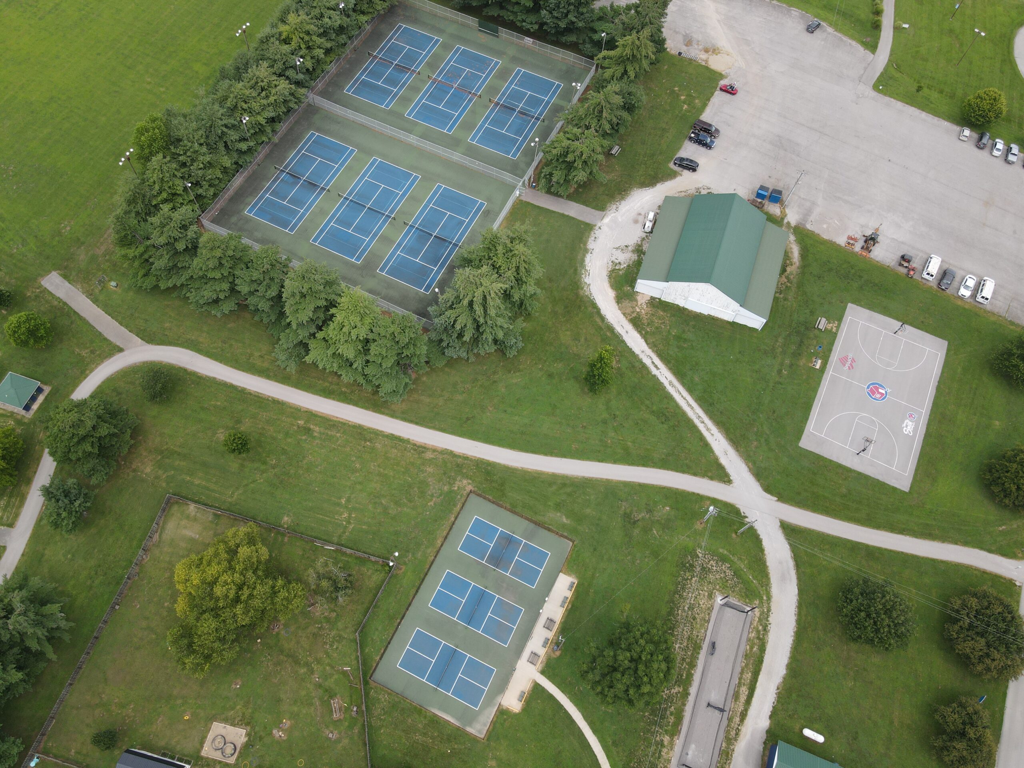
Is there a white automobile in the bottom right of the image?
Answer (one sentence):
No, there is no white automobile in the bottom right of the image.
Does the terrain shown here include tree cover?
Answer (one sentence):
Yes, there's tree cover in this view.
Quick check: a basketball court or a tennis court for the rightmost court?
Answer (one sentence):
What you see as the rightmost court is a basketball court.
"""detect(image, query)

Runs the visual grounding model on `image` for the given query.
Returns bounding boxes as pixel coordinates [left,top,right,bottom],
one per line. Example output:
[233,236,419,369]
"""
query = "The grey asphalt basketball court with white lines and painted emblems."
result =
[799,303,948,491]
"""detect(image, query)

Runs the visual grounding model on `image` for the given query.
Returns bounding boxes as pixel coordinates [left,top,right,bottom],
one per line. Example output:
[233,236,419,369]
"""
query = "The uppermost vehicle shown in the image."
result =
[807,20,821,34]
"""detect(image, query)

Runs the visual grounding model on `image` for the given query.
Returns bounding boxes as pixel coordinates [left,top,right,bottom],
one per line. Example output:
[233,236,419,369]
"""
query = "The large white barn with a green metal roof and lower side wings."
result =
[634,193,789,331]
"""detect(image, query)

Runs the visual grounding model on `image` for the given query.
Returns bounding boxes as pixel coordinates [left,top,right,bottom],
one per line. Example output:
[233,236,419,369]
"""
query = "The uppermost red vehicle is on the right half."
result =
[719,82,739,95]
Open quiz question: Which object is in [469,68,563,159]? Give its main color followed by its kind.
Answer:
blue tennis court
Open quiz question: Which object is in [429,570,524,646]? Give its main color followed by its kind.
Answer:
blue sports court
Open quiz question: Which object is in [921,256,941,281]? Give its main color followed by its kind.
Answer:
white vehicle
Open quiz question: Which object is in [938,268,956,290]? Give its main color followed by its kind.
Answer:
gray car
